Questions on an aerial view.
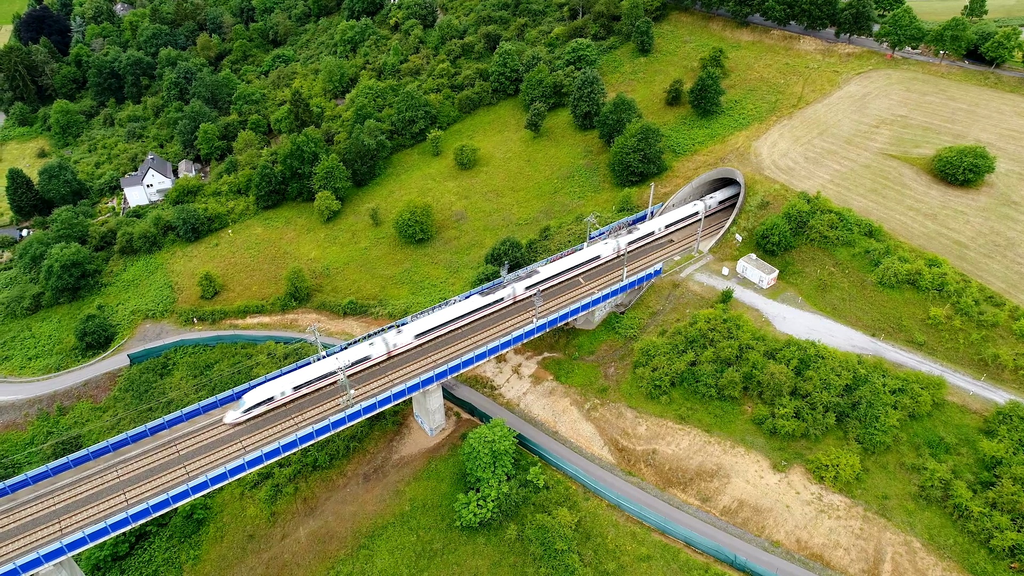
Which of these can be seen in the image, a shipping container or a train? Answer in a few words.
train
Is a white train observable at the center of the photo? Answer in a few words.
Yes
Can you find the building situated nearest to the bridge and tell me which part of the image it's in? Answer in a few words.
right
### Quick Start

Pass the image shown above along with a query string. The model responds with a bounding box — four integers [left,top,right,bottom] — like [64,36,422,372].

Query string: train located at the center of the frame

[226,186,736,426]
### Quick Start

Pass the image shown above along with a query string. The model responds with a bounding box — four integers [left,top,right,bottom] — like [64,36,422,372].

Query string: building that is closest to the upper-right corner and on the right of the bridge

[737,255,779,290]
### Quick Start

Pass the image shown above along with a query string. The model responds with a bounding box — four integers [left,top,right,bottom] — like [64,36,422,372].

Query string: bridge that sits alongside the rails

[0,275,658,576]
